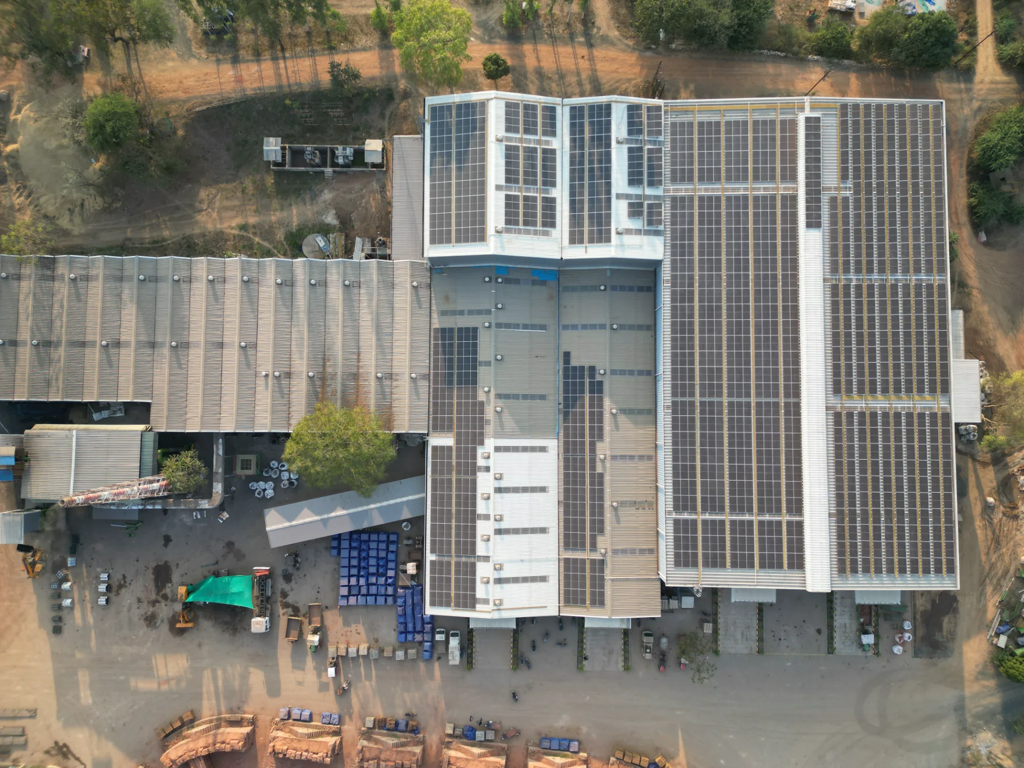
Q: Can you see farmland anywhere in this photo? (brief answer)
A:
No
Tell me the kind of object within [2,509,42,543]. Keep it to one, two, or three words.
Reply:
shed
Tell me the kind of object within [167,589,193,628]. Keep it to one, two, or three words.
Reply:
work vehicle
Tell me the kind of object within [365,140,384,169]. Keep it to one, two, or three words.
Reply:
shed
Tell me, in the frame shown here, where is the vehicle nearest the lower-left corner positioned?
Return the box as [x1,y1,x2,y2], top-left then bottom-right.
[13,543,46,583]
